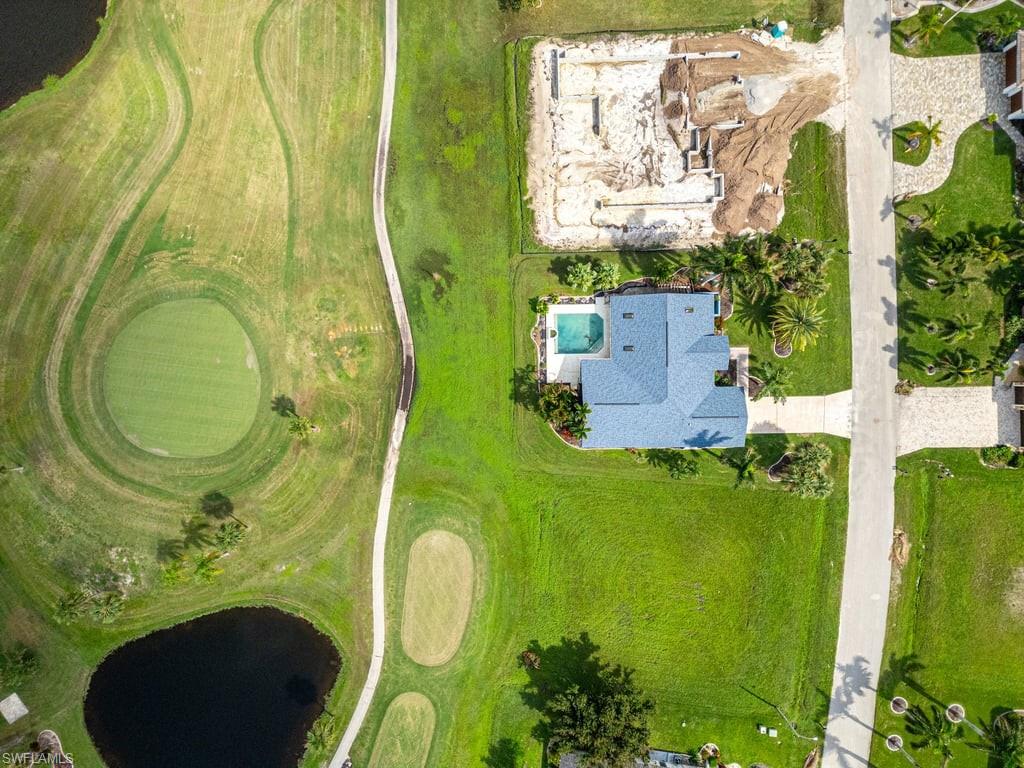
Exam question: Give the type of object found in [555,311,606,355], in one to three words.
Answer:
swimming pool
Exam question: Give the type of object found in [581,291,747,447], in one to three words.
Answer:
house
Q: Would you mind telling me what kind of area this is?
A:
golf course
